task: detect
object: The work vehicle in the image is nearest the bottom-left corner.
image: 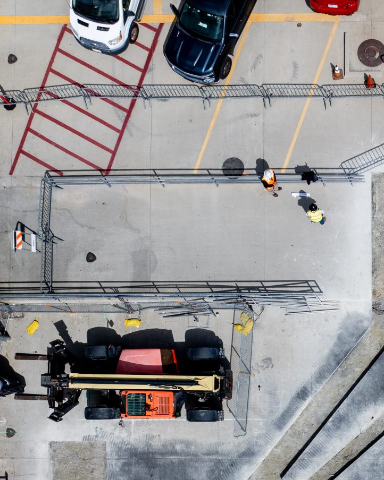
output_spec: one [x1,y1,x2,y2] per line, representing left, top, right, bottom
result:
[15,337,236,428]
